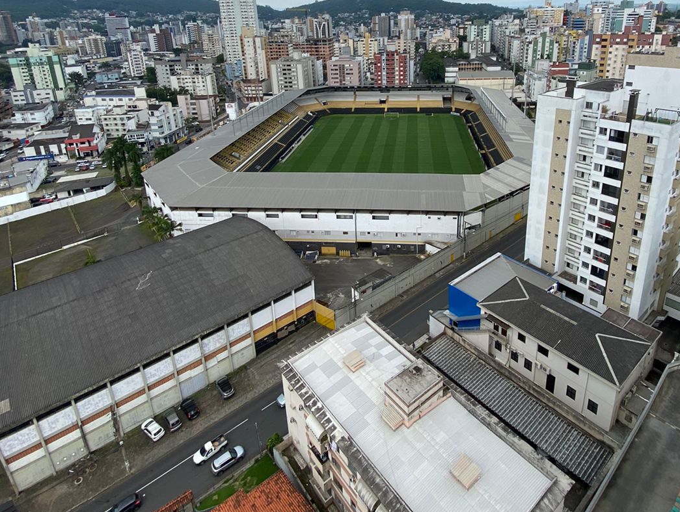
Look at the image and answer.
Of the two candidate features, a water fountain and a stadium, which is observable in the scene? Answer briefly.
stadium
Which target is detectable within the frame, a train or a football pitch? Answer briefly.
football pitch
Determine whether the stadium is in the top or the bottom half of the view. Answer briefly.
top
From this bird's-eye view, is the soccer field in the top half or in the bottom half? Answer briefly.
top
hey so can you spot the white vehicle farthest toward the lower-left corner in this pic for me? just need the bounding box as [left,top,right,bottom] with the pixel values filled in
[139,420,166,445]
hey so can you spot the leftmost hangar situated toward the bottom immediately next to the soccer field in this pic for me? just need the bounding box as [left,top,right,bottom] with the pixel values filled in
[0,212,322,493]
